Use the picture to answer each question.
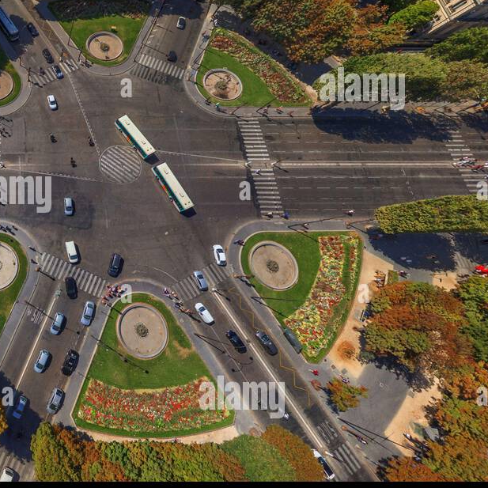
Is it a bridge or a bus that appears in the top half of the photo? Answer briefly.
bus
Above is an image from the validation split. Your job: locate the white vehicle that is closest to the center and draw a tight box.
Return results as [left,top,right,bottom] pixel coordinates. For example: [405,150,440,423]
[213,245,227,265]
